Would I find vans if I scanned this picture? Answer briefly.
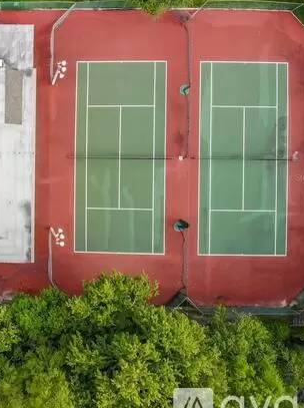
No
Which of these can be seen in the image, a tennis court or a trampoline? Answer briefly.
tennis court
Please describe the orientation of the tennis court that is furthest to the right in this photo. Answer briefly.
vertically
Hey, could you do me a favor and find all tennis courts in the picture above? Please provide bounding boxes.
[197,62,289,255]
[75,61,165,254]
